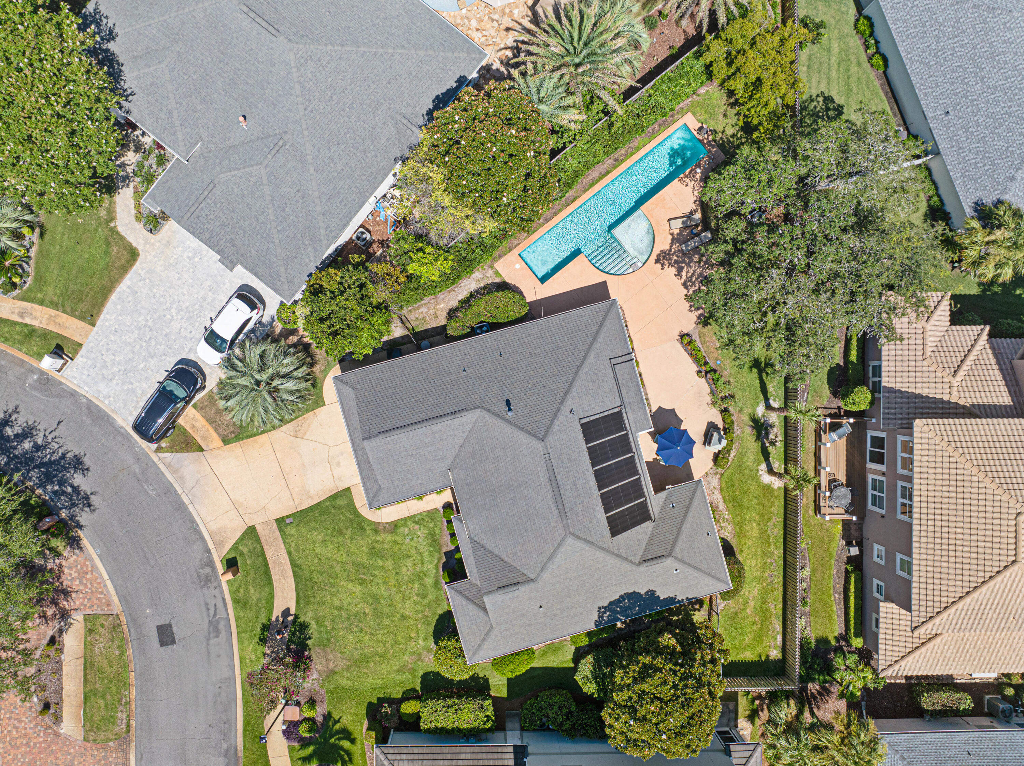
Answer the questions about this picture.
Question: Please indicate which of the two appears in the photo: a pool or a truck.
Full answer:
The image shows a pool.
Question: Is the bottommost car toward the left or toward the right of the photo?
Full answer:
The bottommost car appears in the left half of the scene.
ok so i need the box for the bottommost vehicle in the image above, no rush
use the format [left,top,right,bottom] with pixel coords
[126,361,209,450]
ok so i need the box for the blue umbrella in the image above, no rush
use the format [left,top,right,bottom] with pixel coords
[657,427,696,467]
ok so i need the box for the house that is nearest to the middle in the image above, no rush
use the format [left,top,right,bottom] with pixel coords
[329,296,734,667]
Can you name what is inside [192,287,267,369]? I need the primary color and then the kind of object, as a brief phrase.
white car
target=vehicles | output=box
[126,361,209,450]
[192,287,267,369]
